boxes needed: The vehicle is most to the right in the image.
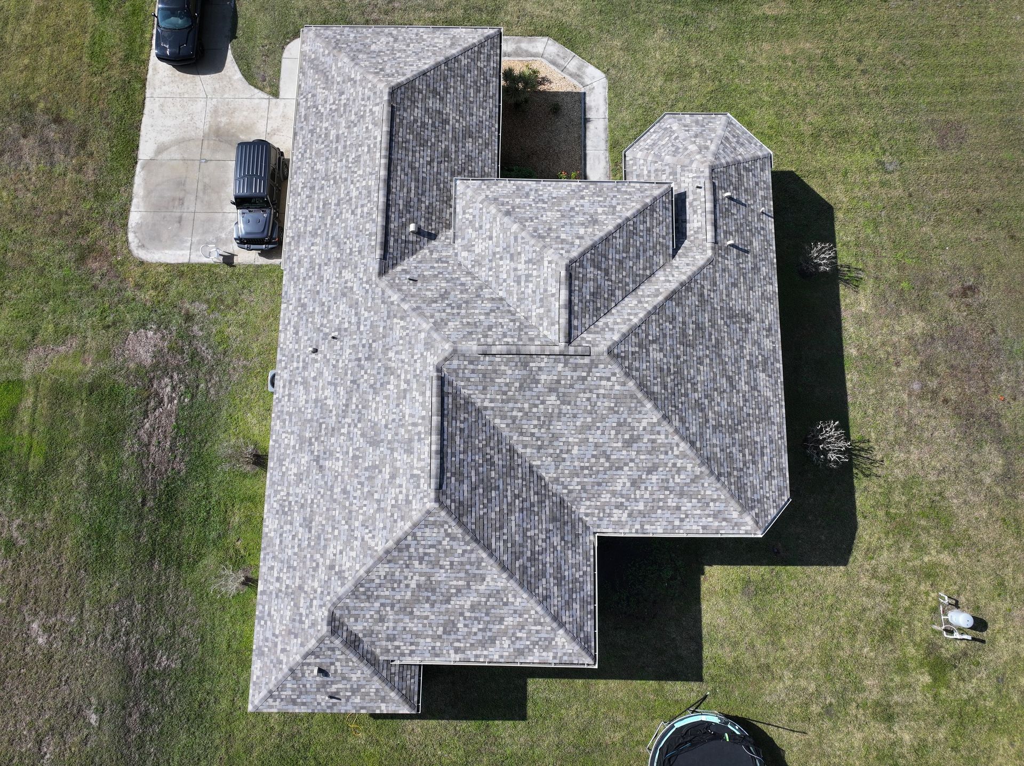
[228,137,287,250]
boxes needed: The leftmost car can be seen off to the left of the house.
[151,0,207,66]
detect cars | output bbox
[151,0,207,66]
[228,137,287,250]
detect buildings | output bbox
[248,25,792,714]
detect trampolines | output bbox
[645,694,764,766]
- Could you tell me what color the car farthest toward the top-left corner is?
black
